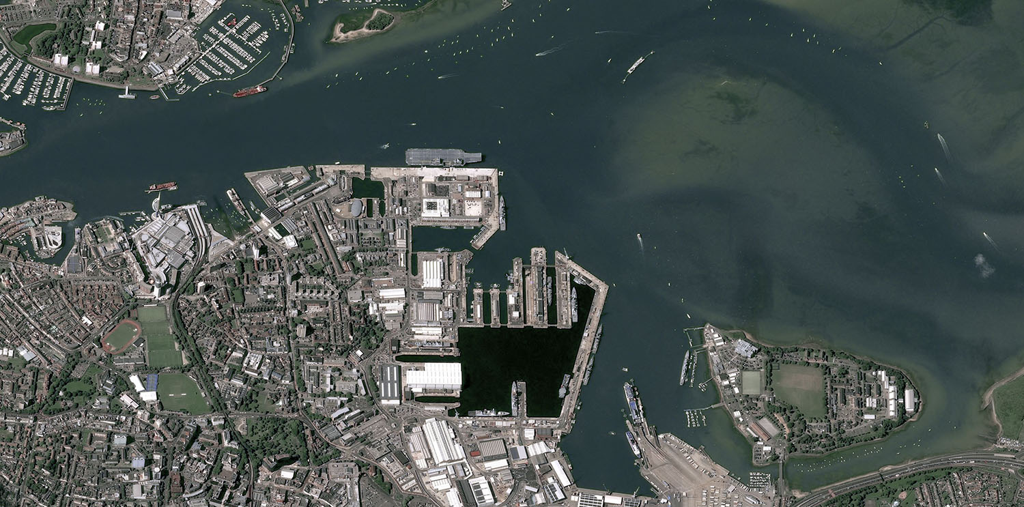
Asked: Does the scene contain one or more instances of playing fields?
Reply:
Yes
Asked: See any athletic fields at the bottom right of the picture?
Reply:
Yes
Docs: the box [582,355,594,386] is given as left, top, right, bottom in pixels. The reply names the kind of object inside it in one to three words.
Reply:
ship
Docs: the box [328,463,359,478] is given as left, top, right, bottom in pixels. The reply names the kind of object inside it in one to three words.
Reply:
building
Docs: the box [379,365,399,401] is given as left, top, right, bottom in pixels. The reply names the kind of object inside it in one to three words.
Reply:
building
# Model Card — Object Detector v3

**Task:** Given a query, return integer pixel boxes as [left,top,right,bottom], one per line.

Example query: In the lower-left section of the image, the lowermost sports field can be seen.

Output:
[158,373,210,414]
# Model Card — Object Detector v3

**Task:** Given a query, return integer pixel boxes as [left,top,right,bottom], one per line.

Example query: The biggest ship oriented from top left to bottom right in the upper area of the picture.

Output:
[227,190,245,215]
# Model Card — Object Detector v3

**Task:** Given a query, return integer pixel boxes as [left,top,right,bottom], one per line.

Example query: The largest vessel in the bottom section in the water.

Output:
[624,383,641,425]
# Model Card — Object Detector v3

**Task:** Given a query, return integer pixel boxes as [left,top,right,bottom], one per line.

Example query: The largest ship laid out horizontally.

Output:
[406,148,482,167]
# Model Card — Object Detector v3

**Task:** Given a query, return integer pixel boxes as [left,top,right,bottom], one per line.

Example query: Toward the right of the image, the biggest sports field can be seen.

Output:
[772,364,826,418]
